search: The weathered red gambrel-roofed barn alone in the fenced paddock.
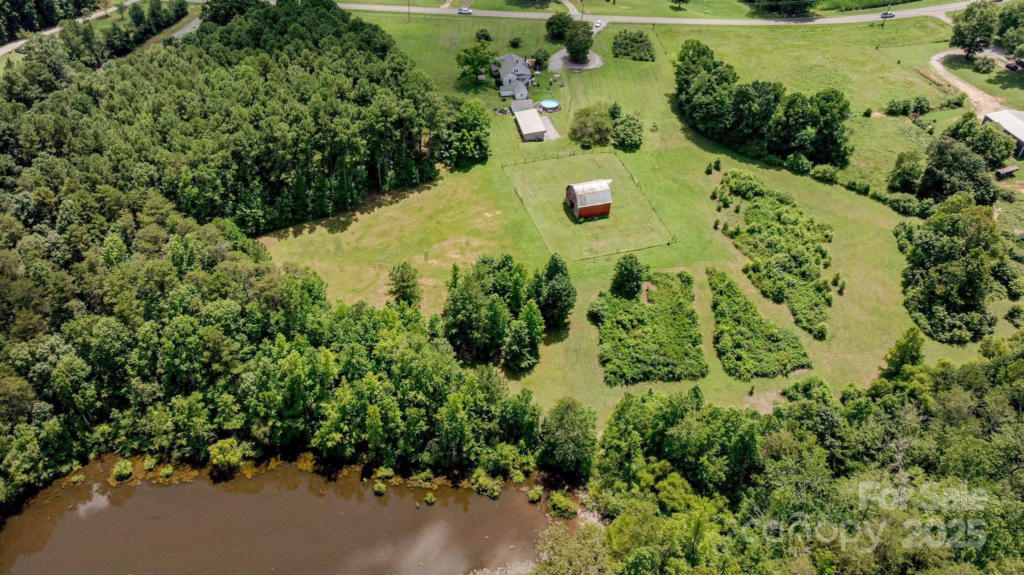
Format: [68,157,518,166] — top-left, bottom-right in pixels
[569,181,616,217]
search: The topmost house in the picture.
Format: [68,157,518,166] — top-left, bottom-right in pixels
[489,53,538,99]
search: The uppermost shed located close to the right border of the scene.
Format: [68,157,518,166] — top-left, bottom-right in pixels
[983,108,1024,160]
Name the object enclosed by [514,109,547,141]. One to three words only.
building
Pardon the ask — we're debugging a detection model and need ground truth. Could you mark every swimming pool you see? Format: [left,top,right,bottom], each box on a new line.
[539,100,560,112]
